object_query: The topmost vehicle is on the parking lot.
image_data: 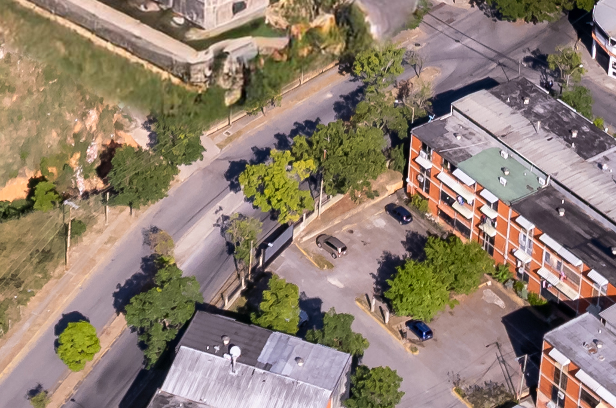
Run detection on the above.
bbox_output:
[379,201,419,226]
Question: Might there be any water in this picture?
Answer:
No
